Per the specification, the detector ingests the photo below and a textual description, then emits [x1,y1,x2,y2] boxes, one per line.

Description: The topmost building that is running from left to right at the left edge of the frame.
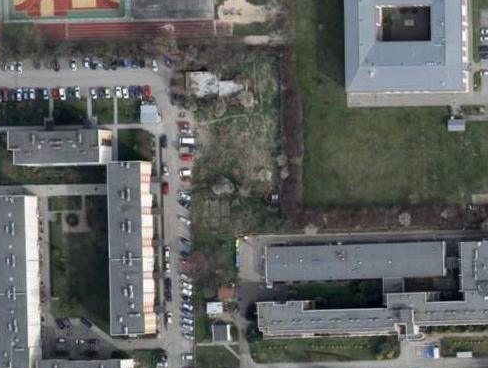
[7,129,111,166]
